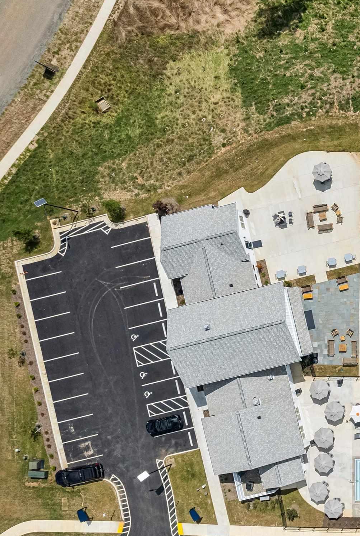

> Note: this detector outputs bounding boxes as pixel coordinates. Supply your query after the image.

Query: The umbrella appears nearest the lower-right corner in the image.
[322,499,343,520]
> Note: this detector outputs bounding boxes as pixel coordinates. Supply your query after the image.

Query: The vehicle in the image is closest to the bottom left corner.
[58,463,108,486]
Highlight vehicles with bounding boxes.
[148,414,186,437]
[58,463,108,486]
